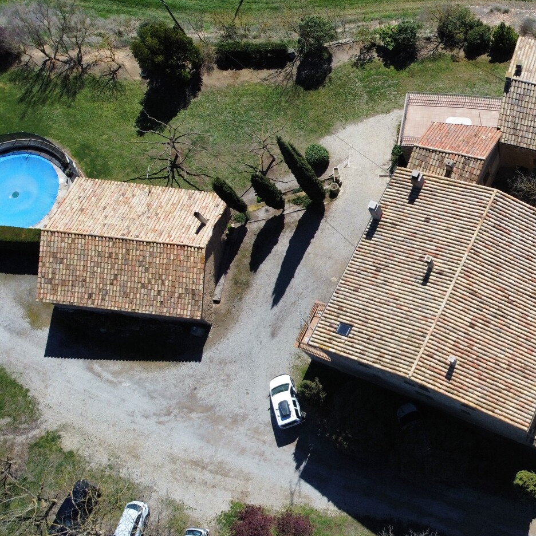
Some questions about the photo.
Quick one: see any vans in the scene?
Yes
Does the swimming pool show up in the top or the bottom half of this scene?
top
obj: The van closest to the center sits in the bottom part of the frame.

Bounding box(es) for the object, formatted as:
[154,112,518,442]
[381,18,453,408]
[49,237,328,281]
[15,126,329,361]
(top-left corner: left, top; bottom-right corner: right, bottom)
[267,374,306,434]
